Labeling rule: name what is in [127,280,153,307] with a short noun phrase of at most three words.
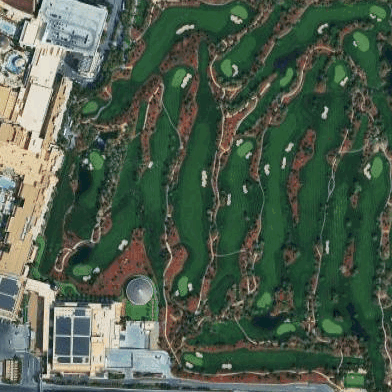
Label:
building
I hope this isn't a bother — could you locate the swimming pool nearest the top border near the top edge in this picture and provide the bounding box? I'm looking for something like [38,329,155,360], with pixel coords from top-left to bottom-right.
[0,18,16,36]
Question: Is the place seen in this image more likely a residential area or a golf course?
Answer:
golf course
